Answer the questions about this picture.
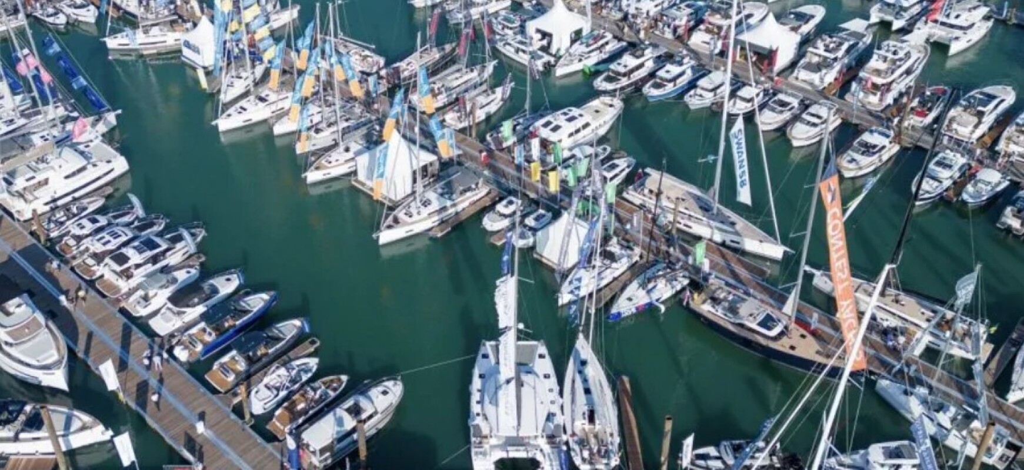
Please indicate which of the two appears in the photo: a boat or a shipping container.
boat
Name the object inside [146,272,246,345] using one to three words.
boat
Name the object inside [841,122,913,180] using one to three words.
boat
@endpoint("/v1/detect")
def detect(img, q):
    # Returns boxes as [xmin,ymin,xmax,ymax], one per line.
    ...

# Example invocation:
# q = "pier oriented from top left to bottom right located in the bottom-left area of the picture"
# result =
[0,214,286,470]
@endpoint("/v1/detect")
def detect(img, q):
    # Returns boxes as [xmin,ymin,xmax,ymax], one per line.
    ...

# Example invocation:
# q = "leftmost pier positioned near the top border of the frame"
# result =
[97,0,191,39]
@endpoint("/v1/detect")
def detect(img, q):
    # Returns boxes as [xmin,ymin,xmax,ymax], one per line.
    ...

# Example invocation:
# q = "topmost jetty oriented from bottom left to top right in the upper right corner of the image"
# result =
[817,61,867,96]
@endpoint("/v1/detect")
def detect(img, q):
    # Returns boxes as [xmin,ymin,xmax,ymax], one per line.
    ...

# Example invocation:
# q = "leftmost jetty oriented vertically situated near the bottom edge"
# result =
[616,379,647,470]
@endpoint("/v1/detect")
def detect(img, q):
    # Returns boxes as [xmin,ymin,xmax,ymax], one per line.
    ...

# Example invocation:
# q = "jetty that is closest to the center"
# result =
[488,215,531,248]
